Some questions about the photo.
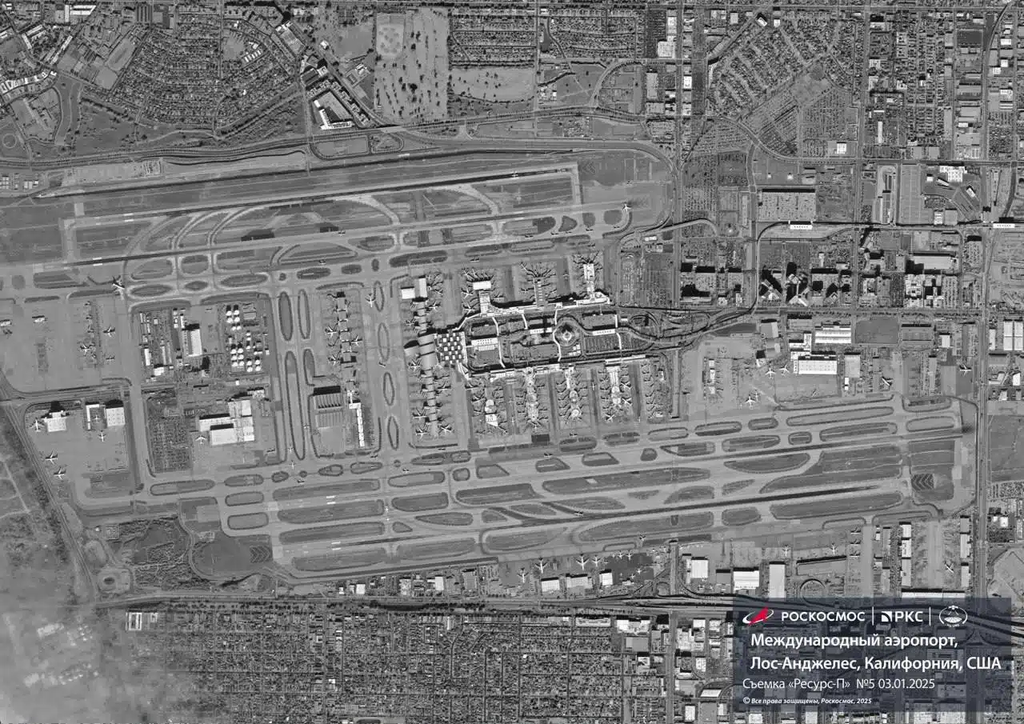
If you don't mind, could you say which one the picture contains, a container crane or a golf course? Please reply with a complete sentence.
Looking from above, you can make out a golf course.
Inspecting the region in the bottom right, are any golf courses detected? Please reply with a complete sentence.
No, looking in the bottom right, there is no golf course.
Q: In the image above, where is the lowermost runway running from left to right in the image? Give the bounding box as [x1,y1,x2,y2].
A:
[272,480,909,558]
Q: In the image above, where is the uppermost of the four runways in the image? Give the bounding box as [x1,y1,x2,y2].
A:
[67,164,579,228]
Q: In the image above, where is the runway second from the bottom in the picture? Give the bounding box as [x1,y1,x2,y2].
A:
[266,431,965,511]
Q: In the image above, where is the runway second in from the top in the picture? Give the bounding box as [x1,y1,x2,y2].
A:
[34,198,641,273]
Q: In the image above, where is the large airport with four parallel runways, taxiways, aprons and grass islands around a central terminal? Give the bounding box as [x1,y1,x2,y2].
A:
[0,144,978,598]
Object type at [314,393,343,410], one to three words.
hangar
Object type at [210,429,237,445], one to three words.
hangar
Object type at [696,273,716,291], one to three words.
building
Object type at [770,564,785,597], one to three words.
building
